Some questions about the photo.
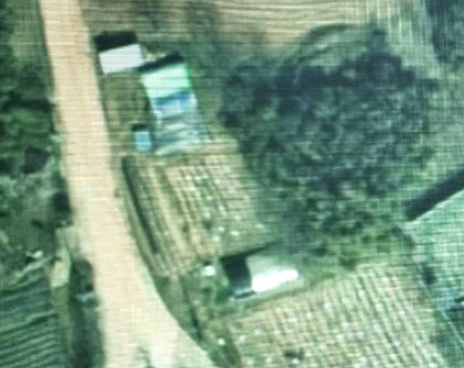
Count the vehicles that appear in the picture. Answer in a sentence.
The photo contains no vehicles.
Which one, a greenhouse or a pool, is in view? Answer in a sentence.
Of the two, only a greenhouse appears.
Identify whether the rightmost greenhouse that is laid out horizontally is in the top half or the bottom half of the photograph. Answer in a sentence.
The bottom half of the photo is where the rightmost greenhouse that is laid out horizontally is.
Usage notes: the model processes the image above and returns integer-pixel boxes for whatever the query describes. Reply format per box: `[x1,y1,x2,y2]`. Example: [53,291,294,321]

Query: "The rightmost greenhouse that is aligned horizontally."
[221,244,299,295]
